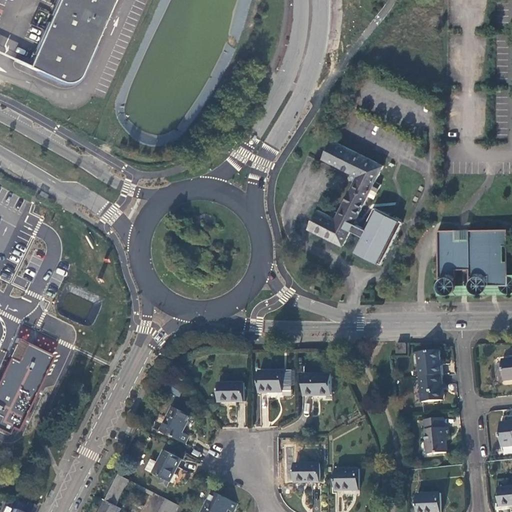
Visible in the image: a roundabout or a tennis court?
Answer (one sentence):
There is a roundabout in the scene.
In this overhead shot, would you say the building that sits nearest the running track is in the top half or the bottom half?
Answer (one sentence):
You can find the building that sits nearest the running track in the top half.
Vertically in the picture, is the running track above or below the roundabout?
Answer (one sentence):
It's above the roundabout that the running track shows up.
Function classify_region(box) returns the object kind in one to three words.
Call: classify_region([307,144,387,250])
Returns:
building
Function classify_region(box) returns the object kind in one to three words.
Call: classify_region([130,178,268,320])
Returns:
roundabout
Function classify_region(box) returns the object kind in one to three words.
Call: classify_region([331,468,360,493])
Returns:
house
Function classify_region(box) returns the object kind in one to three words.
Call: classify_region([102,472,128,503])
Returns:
house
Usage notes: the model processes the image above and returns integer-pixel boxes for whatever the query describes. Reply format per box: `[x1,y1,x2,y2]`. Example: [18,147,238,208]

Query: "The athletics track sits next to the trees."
[114,0,252,147]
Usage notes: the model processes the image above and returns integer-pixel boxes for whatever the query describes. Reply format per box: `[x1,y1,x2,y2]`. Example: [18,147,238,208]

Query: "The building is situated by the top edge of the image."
[32,0,122,86]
